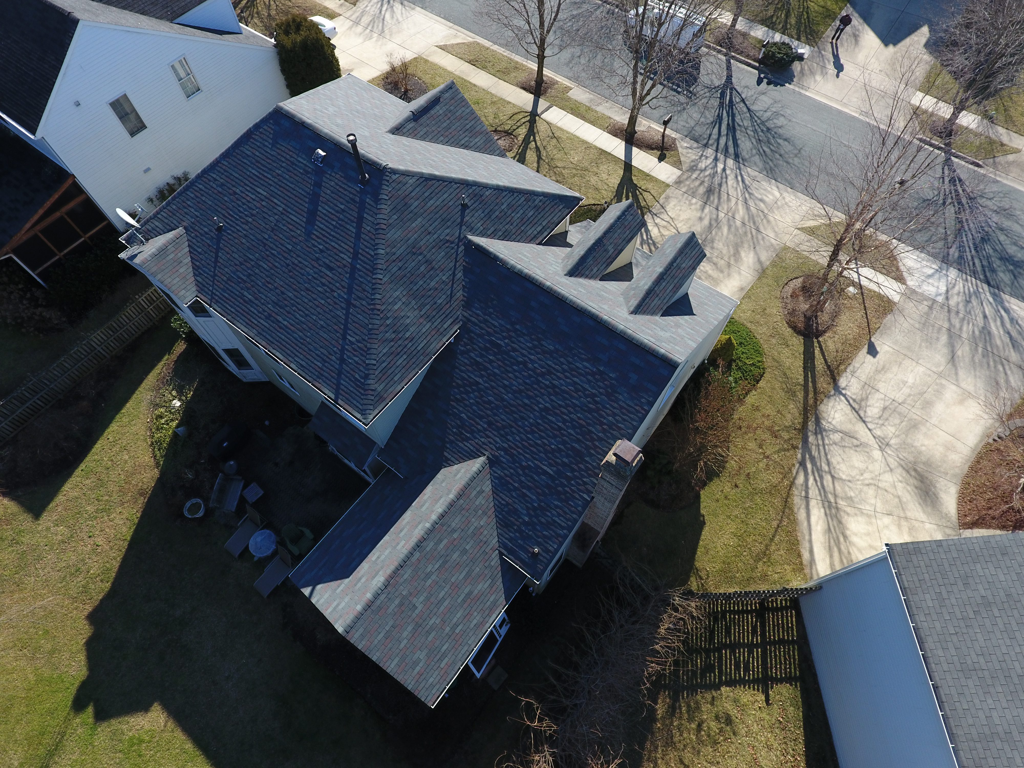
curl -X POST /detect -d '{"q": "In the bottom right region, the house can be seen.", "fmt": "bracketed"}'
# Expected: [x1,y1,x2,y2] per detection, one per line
[796,534,1024,768]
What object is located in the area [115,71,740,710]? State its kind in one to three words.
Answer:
house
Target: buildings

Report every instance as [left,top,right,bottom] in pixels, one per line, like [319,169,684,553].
[115,71,740,710]
[796,534,1024,768]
